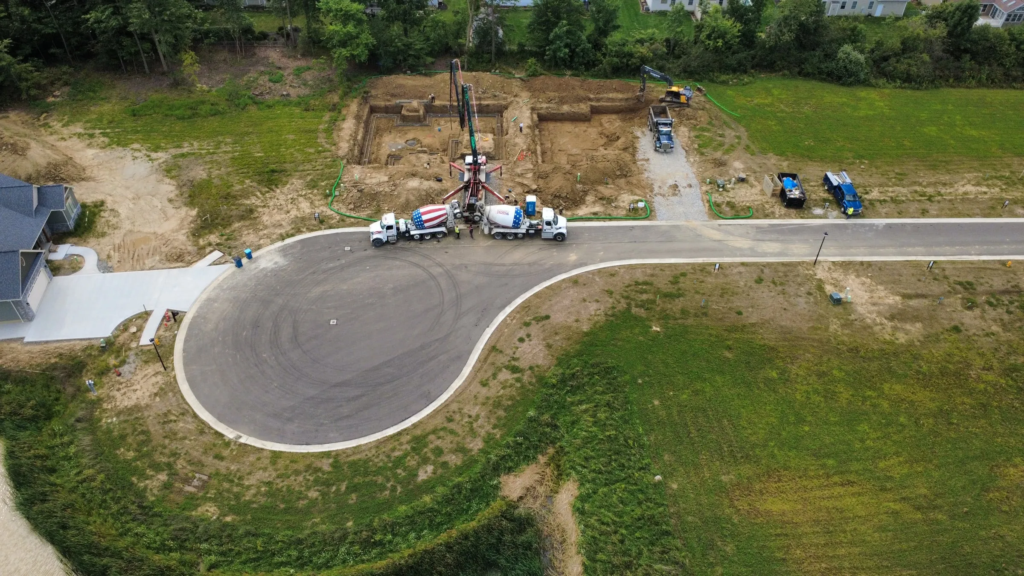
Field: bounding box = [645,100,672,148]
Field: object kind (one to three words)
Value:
truck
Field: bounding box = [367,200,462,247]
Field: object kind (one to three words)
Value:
truck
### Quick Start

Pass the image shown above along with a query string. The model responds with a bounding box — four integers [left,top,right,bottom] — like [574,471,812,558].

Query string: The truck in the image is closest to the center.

[474,202,569,242]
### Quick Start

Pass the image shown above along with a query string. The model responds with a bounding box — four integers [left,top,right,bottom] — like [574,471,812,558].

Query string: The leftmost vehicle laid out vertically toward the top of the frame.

[442,59,507,216]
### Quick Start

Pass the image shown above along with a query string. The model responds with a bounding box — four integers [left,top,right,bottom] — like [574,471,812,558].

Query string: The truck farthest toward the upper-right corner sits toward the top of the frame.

[827,167,864,211]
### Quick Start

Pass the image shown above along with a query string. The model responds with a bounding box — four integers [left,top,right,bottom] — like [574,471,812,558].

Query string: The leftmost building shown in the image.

[0,173,81,324]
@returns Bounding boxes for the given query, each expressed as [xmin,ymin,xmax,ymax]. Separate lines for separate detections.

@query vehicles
[635,65,695,108]
[367,200,462,247]
[442,59,507,216]
[474,202,569,242]
[827,167,864,211]
[645,100,672,148]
